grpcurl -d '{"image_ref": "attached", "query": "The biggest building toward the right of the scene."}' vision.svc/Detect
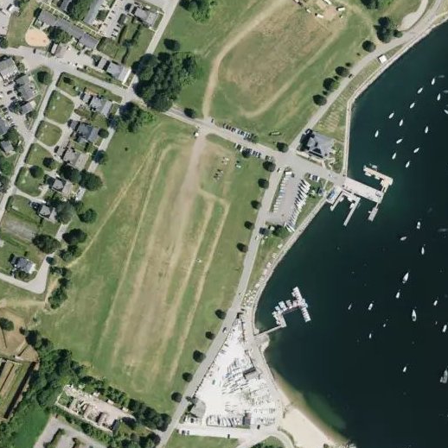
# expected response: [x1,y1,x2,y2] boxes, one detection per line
[307,131,337,159]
